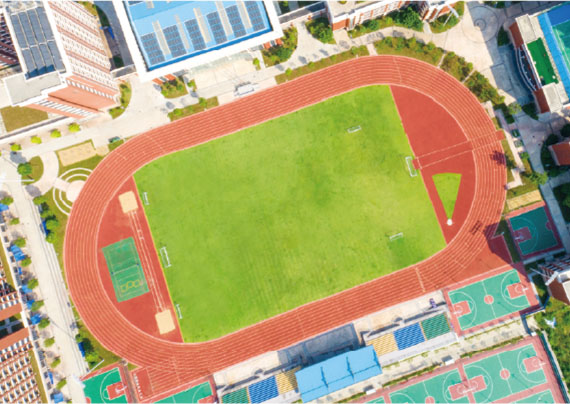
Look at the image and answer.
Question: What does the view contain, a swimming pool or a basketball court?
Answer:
basketball court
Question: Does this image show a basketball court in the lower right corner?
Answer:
Yes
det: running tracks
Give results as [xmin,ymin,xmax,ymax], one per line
[64,53,517,402]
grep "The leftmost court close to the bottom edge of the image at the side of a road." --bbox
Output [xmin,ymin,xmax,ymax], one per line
[81,364,135,404]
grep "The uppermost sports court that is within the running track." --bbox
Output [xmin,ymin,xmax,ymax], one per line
[102,238,149,302]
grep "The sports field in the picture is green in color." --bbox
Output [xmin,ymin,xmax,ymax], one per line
[134,85,446,343]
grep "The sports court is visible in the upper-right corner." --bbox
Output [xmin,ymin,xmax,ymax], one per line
[538,2,570,122]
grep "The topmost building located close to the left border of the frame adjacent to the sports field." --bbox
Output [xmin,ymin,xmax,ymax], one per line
[0,0,123,128]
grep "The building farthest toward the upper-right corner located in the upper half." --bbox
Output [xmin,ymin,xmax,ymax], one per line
[502,0,570,111]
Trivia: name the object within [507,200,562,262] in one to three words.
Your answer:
basketball court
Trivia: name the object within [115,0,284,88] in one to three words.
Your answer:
building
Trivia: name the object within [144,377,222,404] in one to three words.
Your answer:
basketball court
